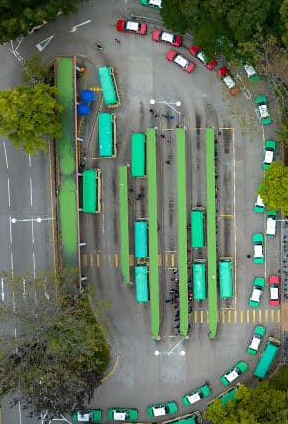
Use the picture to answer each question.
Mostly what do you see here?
paved ground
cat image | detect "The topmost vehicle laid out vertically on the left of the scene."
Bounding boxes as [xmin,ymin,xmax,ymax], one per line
[96,63,122,109]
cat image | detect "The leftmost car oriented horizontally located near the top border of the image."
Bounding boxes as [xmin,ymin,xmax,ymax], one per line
[118,20,148,36]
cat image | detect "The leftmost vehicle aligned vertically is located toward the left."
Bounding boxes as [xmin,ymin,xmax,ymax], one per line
[82,166,102,213]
